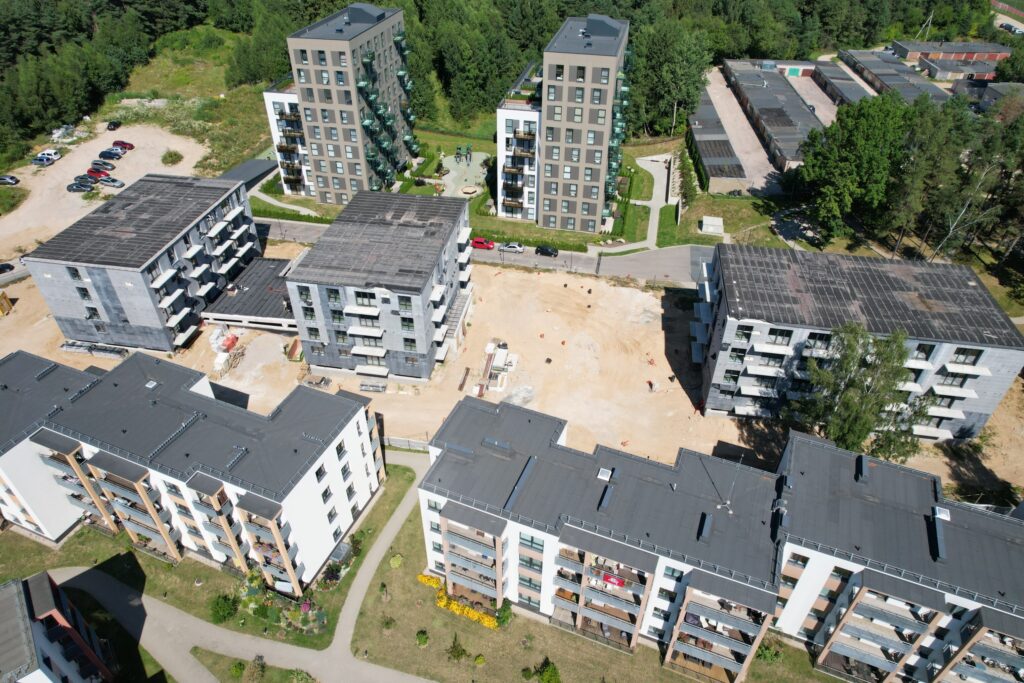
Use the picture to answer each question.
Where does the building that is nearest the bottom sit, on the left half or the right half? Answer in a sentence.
The building that is nearest the bottom sits on the left side.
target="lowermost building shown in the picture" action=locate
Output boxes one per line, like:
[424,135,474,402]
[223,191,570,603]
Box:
[0,570,108,683]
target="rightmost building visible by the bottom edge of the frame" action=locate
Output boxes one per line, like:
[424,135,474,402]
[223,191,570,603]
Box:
[765,434,1024,683]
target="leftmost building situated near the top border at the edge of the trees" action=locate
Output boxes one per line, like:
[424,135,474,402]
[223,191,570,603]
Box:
[262,3,420,205]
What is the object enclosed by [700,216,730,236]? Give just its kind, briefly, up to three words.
building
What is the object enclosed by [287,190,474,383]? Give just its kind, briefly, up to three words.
building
